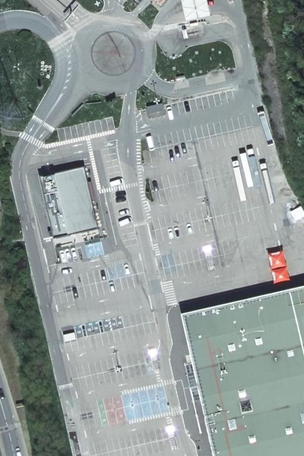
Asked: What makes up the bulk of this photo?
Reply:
paved ground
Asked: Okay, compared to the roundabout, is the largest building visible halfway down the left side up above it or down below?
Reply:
below it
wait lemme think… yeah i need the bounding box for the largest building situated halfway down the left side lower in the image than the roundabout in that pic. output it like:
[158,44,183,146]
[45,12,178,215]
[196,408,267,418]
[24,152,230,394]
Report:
[41,167,97,237]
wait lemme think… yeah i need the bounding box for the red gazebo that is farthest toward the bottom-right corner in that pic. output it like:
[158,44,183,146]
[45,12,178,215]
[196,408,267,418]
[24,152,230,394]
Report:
[272,266,290,283]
